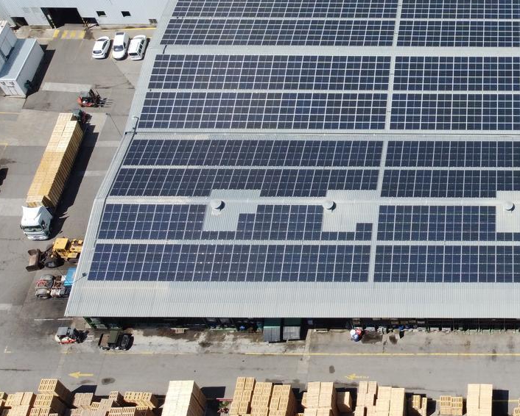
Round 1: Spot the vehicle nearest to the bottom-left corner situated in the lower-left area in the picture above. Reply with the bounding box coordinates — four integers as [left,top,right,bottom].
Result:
[48,324,90,345]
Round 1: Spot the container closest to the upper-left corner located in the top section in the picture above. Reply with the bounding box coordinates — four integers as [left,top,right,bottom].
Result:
[0,38,46,94]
